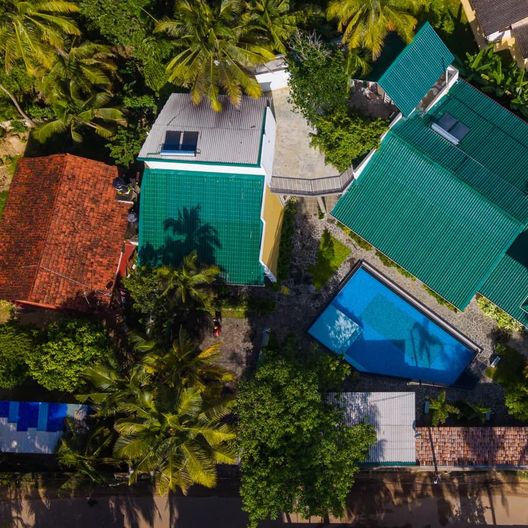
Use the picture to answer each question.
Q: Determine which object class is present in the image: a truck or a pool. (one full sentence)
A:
Looking from above, you can make out a pool.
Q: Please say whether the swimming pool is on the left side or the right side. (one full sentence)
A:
The swimming pool sits on the right side.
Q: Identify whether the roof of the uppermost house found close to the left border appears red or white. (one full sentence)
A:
From above, the roof of the uppermost house found close to the left border appears red.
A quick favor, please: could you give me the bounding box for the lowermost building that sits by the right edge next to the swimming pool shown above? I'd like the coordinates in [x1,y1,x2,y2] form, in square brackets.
[329,76,528,326]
